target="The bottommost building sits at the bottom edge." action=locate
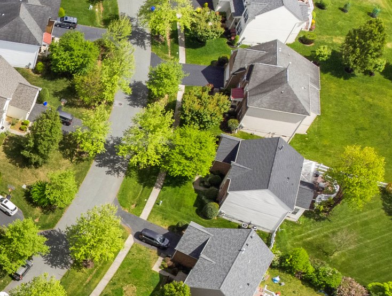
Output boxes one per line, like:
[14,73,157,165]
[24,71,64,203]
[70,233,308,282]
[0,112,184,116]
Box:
[172,217,275,296]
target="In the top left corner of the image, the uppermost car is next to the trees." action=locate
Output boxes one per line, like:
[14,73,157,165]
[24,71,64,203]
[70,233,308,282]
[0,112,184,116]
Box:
[57,15,80,30]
